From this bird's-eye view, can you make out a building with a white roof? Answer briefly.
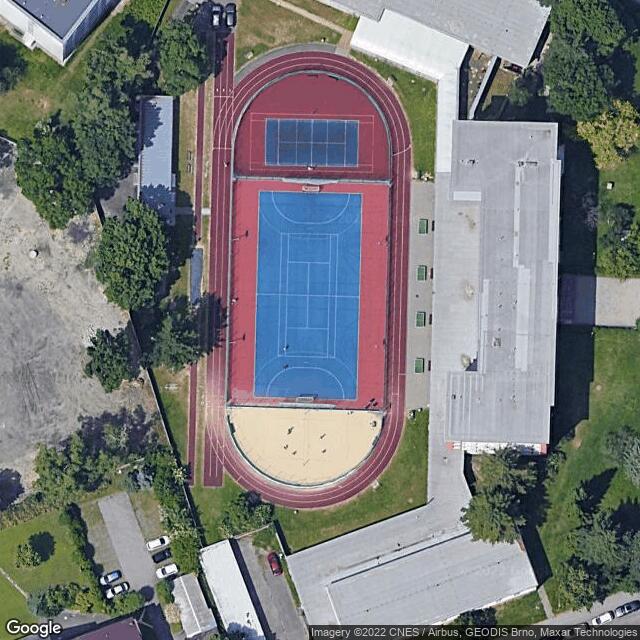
Yes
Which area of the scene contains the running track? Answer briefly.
center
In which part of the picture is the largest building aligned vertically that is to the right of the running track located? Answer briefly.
right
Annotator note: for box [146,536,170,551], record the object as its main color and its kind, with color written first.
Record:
white car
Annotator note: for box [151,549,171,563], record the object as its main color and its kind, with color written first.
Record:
black car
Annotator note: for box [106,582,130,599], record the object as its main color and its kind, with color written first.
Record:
white car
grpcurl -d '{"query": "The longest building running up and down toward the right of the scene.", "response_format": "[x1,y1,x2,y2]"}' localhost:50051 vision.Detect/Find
[446,121,561,455]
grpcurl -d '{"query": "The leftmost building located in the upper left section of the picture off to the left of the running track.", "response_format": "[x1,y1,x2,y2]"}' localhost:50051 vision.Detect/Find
[0,0,124,66]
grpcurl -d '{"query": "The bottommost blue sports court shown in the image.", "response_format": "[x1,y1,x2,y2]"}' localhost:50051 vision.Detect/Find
[228,181,389,408]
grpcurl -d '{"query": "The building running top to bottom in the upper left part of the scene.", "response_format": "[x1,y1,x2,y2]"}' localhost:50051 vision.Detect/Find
[138,96,174,229]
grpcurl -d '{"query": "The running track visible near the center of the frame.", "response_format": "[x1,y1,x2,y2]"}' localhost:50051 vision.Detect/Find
[202,30,412,511]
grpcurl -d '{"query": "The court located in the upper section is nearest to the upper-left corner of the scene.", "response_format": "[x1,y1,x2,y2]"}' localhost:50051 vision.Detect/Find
[233,72,390,182]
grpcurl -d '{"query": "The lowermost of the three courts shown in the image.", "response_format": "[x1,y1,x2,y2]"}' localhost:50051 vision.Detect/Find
[227,406,384,488]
